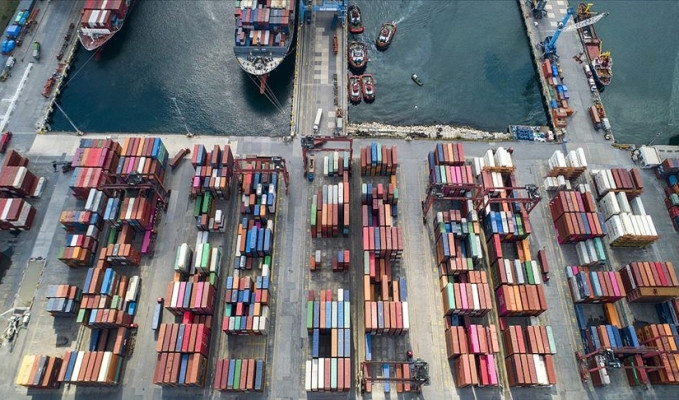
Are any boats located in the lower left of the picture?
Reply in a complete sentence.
No, no boat appears in the lower left of the picture.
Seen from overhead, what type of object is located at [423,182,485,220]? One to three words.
container crane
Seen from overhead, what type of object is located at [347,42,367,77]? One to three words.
boat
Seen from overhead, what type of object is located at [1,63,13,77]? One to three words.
vehicle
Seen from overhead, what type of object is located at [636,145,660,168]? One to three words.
shed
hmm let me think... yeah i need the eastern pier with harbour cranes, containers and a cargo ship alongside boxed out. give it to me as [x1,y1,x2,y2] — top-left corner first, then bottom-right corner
[517,0,614,143]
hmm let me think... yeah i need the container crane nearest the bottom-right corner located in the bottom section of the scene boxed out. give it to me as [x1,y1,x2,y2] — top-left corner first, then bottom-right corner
[577,344,671,381]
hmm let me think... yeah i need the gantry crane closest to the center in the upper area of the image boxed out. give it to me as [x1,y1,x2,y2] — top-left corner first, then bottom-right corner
[300,135,353,172]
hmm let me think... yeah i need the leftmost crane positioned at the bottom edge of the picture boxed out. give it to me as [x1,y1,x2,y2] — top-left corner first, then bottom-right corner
[358,356,432,393]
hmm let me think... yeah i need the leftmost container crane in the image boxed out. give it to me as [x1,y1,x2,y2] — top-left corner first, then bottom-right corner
[95,170,168,207]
